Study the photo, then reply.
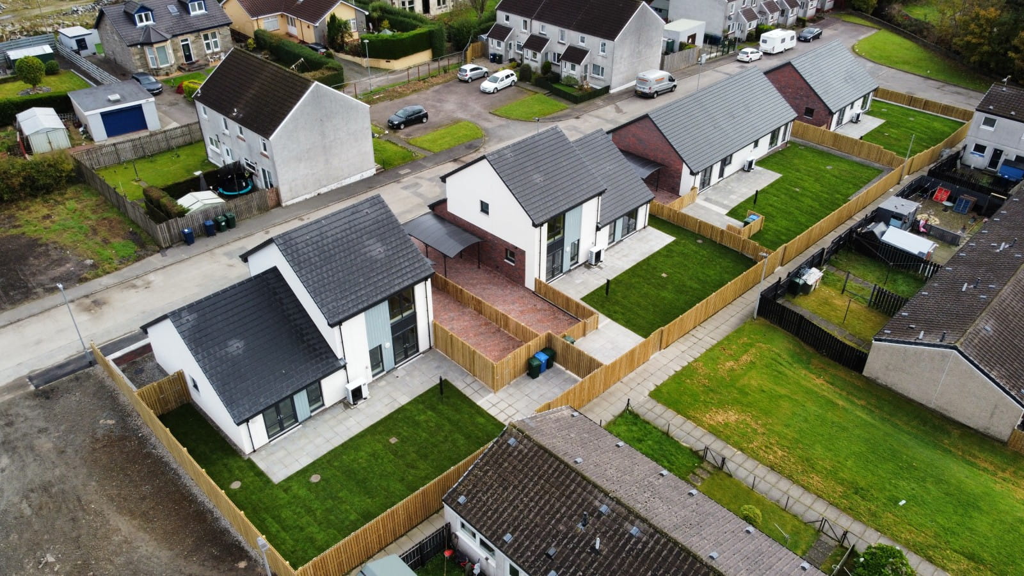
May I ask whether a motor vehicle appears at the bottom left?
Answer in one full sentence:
No, there is no motor vehicle at the bottom left.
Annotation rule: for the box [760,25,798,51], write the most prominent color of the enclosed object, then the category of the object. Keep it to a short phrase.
white camper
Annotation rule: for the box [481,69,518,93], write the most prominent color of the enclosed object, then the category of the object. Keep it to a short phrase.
white car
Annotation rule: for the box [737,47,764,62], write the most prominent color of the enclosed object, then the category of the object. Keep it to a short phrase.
white car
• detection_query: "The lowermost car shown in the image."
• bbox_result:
[390,104,429,129]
